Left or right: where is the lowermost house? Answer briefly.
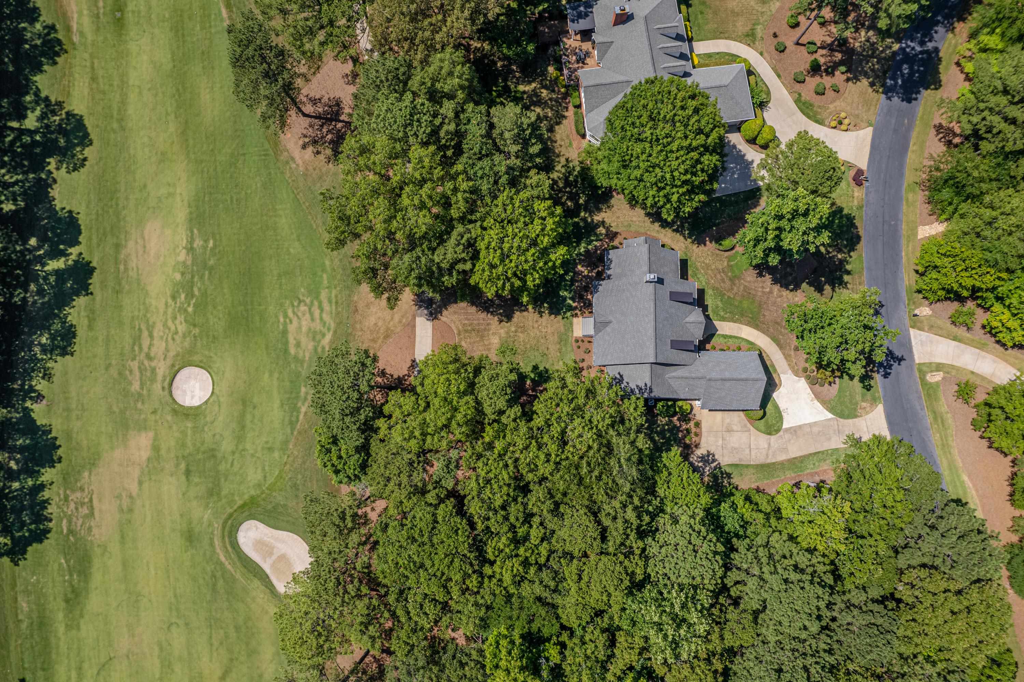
right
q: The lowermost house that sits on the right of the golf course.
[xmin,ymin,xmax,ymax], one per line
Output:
[593,237,767,410]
